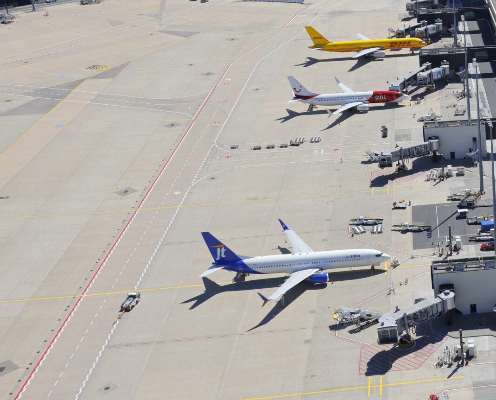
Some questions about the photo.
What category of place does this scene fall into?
airport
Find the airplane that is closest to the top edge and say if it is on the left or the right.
right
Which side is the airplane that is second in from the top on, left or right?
right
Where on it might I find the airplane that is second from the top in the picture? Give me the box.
[290,74,409,111]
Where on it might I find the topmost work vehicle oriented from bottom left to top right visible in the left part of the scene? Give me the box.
[115,288,145,310]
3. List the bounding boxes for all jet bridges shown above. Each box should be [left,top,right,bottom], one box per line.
[385,60,437,93]
[402,0,437,15]
[373,136,440,172]
[372,286,457,355]
[393,19,429,37]
[415,59,465,90]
